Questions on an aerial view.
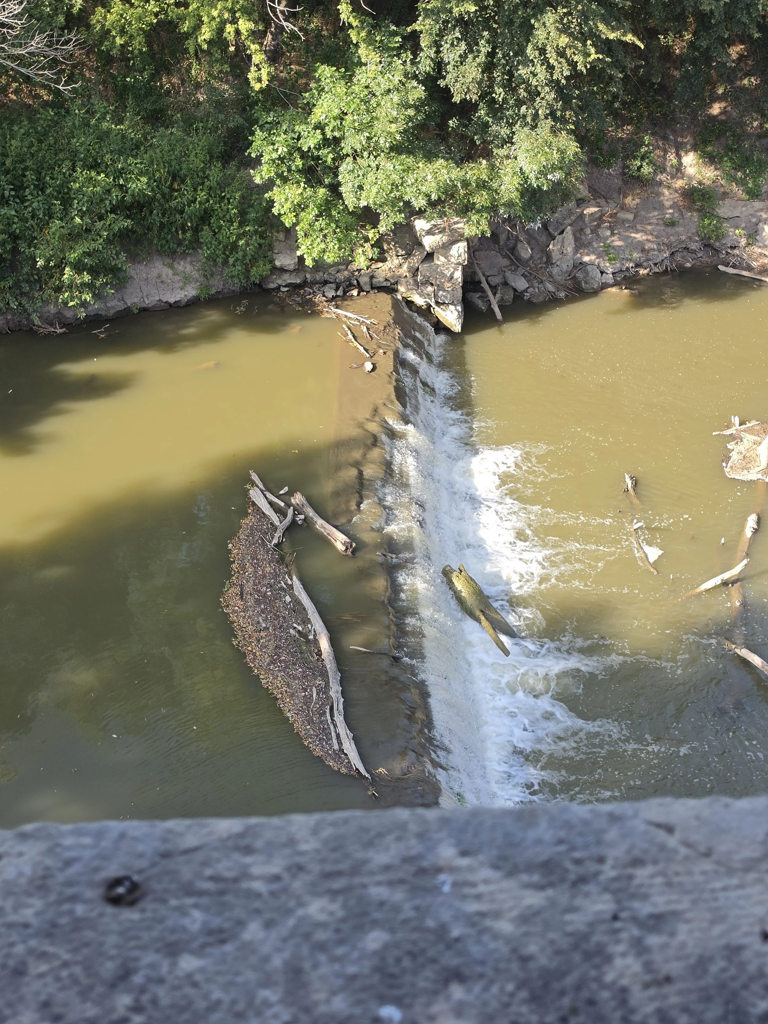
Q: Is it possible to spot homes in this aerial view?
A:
No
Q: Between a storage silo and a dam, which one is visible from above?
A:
dam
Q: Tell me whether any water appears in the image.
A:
Yes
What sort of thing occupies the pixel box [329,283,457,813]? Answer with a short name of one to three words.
dam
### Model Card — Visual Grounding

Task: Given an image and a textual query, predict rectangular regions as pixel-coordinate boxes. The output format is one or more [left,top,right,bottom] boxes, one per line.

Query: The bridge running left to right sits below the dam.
[0,797,768,1024]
